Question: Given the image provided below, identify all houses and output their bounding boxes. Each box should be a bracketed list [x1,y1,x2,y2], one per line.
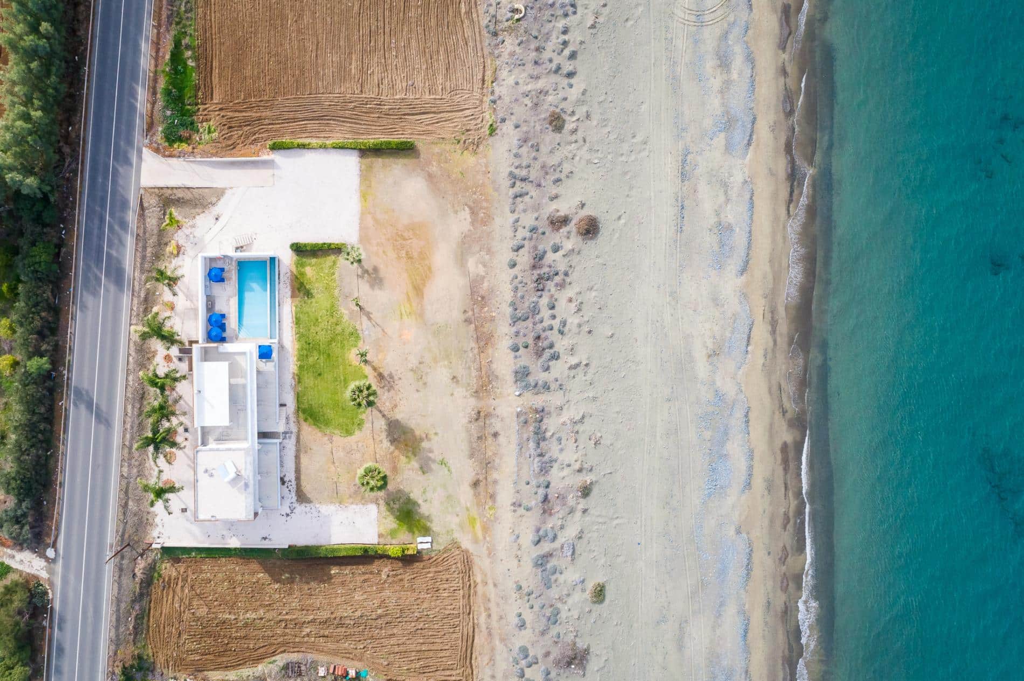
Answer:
[174,340,292,521]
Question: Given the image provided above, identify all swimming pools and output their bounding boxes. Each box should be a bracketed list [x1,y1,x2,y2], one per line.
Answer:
[199,253,281,345]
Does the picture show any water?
Yes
